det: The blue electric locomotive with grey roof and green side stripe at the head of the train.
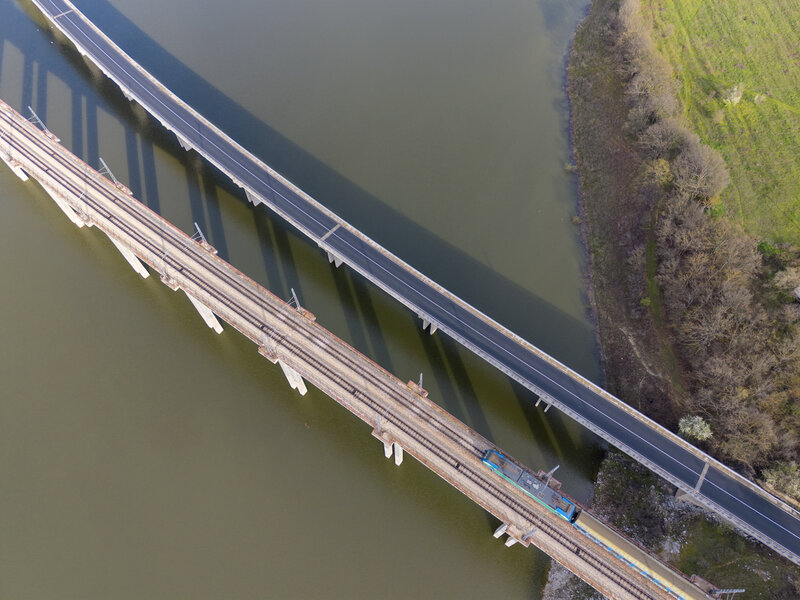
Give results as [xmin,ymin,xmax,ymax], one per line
[480,449,578,525]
